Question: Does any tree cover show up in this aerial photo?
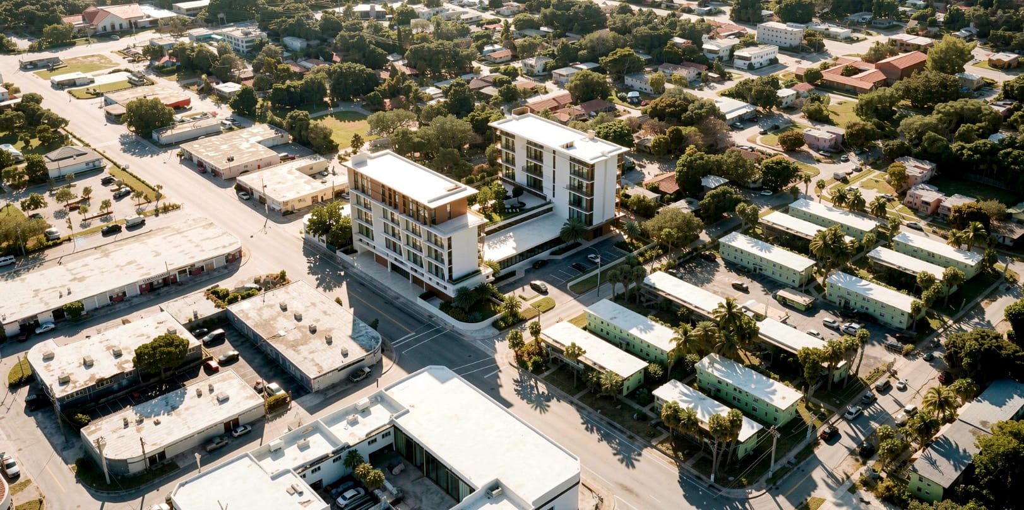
Yes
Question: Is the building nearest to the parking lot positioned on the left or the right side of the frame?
left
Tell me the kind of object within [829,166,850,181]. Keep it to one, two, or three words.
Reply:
vehicle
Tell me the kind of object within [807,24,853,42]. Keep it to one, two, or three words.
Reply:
building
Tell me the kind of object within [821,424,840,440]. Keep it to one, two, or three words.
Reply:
car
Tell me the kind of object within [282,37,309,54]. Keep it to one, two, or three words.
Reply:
house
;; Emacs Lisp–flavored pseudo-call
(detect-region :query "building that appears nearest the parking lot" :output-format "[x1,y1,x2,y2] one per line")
[40,150,104,180]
